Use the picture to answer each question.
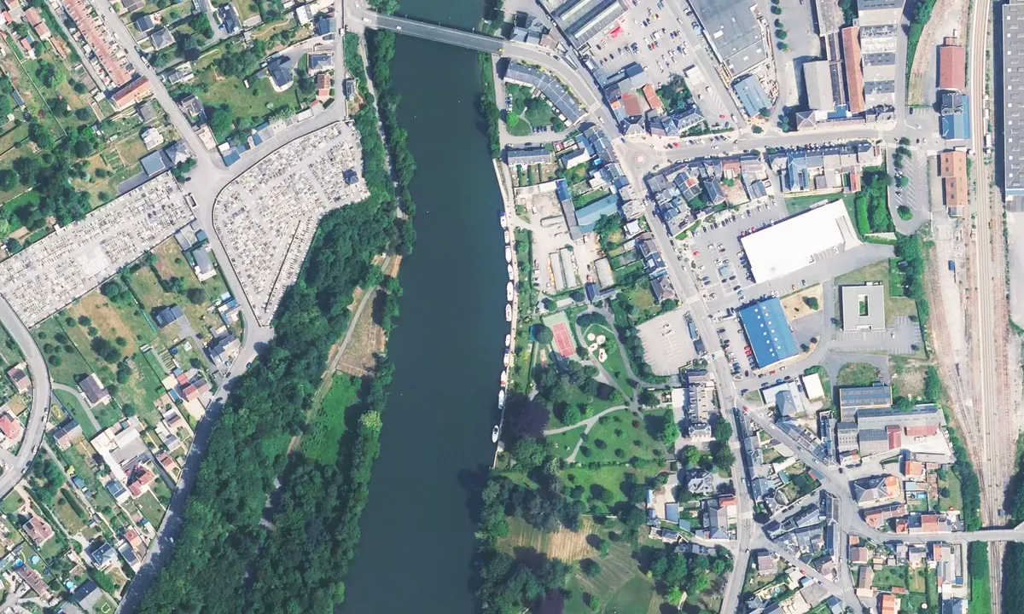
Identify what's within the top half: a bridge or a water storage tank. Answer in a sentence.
You can see a bridge within the top half.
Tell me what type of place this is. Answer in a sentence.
The picture captures a residential area.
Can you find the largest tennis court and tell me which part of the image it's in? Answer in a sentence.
The largest tennis court appears toward the center of the photo.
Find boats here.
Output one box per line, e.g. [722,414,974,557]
[492,425,499,443]
[504,245,512,262]
[504,230,509,243]
[505,334,510,347]
[504,349,510,366]
[499,210,506,228]
[498,390,504,409]
[506,281,514,301]
[505,303,511,320]
[500,371,506,388]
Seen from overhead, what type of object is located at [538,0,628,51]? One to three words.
building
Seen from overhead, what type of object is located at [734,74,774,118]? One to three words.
building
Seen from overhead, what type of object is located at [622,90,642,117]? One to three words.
house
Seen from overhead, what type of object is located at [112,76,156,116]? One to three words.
house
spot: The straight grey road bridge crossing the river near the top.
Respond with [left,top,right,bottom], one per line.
[373,12,507,56]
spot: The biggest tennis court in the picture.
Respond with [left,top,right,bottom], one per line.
[542,312,579,359]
